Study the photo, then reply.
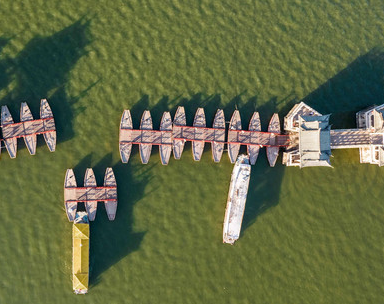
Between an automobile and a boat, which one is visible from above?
boat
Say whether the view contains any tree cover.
No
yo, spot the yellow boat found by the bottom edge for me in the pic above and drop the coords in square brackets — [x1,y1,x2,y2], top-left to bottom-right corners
[72,212,90,295]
